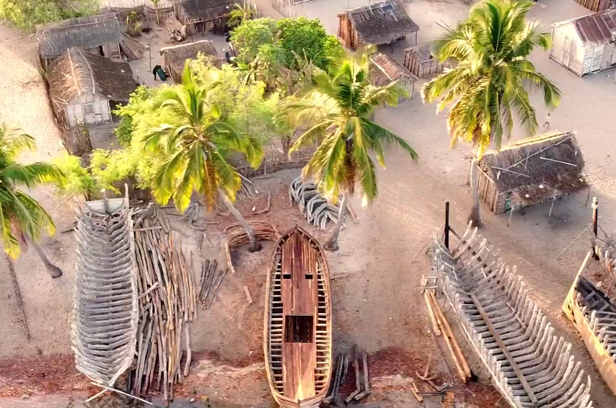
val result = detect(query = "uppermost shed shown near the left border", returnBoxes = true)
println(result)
[18,10,128,62]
